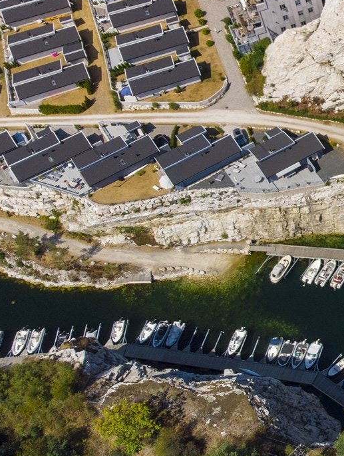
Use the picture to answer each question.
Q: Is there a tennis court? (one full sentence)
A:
No, there appears to be no tennis court in this shot.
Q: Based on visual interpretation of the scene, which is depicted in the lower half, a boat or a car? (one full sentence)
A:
The one visible in the lower half is a boat.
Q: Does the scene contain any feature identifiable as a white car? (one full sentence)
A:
No, the picture doesn't show any white car.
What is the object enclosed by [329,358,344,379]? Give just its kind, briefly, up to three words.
boat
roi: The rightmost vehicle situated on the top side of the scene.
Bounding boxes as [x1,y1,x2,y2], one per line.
[230,127,249,147]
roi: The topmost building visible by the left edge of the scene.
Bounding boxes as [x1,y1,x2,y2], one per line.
[0,0,75,33]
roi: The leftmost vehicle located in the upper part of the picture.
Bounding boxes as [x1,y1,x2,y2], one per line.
[152,131,170,151]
